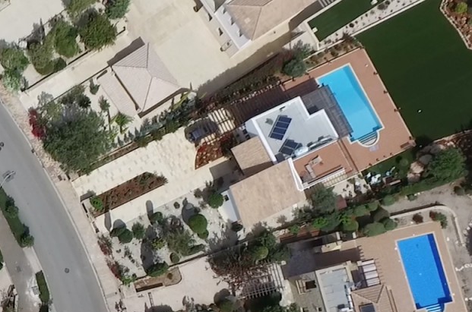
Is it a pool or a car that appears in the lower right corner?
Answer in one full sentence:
Looking in the lower right corner, you will find a pool.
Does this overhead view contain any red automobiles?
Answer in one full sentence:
No, no red automobile can be seen from above.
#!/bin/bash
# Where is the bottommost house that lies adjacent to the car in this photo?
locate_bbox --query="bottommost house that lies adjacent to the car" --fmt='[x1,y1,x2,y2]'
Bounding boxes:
[222,96,355,227]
